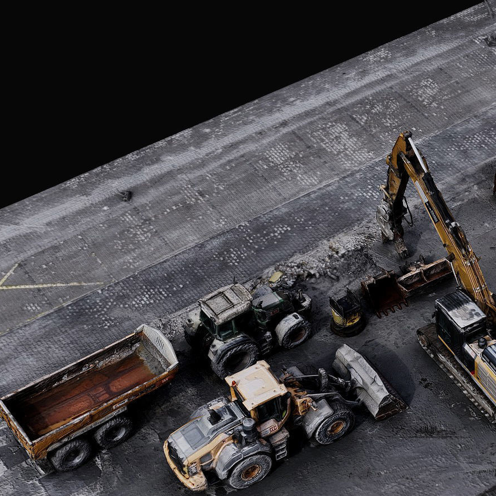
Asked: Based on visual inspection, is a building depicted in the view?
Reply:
No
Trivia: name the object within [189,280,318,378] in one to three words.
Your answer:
work vehicle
